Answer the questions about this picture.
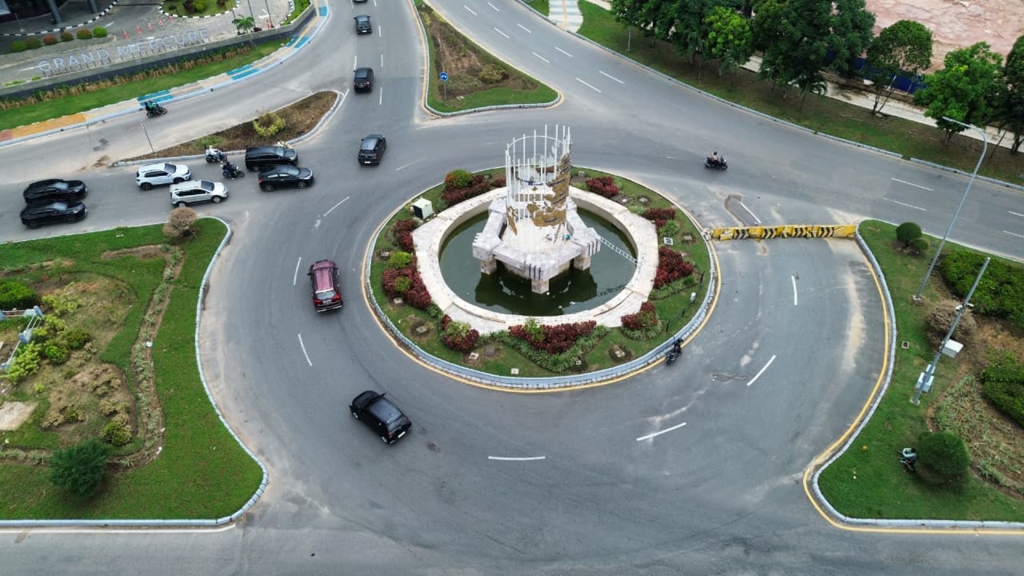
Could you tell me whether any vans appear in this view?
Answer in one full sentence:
Yes, the image includes a van.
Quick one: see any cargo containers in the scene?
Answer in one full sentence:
No, this view has no cargo container in it.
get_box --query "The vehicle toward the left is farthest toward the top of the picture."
[353,12,372,29]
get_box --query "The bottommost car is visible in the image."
[349,388,415,445]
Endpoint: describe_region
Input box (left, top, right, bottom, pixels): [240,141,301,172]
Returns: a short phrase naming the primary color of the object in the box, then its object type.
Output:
black van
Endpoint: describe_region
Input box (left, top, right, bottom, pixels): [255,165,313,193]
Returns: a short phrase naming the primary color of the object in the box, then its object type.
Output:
black car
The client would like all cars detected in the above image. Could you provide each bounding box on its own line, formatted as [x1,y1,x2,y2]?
[349,388,415,445]
[353,12,372,29]
[130,160,190,190]
[305,257,343,306]
[165,177,230,209]
[358,131,389,160]
[16,198,85,229]
[351,63,373,87]
[20,175,86,202]
[255,165,313,193]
